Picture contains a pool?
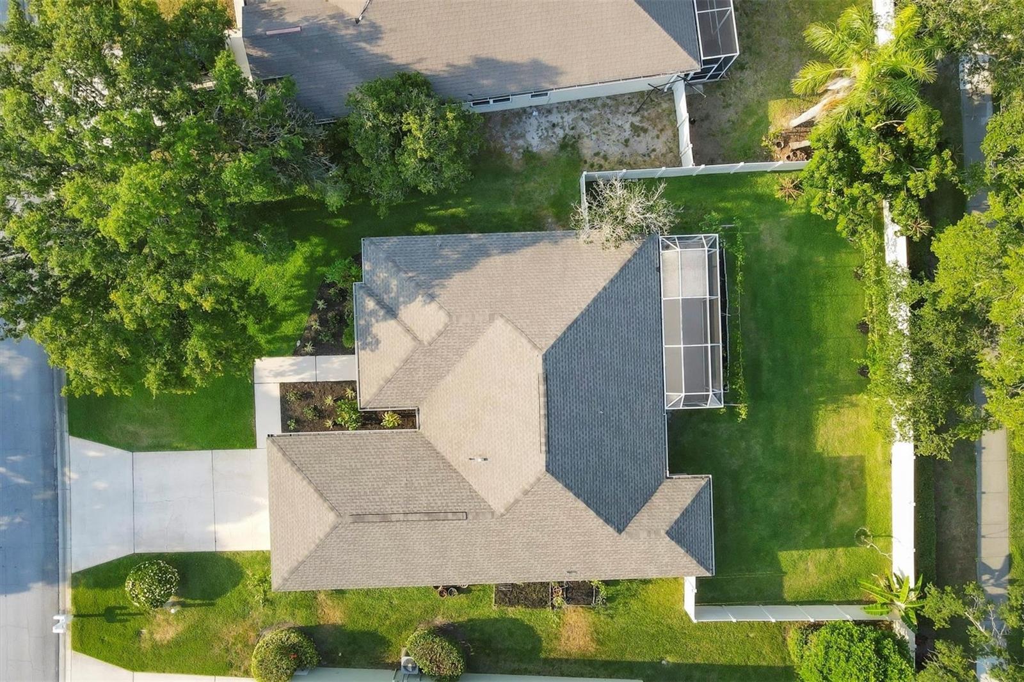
No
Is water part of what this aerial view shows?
No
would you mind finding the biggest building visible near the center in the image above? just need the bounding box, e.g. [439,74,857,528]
[266,229,717,591]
